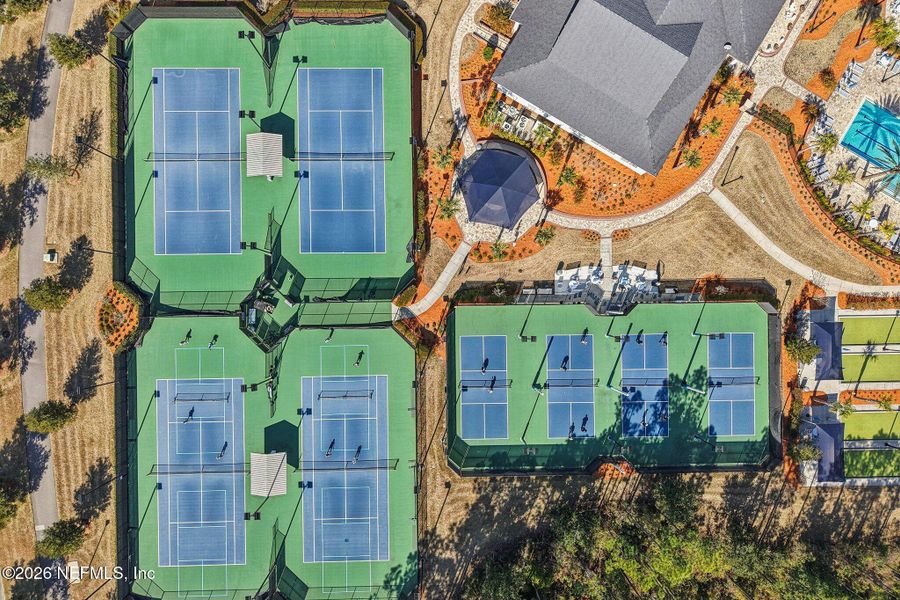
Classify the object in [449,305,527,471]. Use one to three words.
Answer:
sports court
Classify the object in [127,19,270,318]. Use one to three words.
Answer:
tennis court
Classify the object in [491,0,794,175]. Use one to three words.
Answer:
building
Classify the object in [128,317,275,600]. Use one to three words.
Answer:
tennis court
